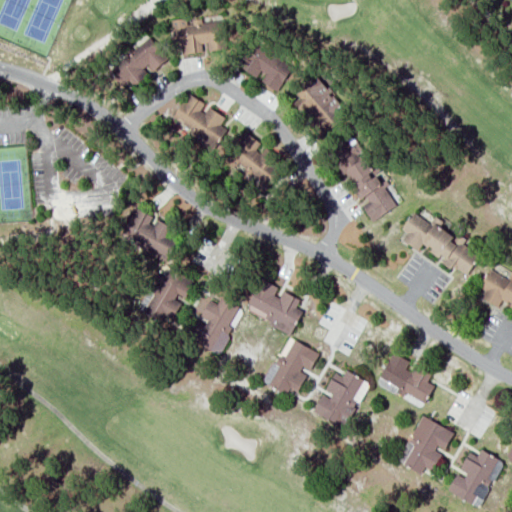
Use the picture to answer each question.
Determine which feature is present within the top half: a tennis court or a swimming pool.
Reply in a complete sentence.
Visible within the top half is a tennis court.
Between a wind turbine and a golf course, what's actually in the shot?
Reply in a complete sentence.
Of the two, only a golf course appears.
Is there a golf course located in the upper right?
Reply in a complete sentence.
Yes, looking in the upper right, one can make out a golf course.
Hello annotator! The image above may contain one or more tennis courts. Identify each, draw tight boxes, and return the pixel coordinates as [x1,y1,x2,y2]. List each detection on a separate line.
[0,0,34,43]
[0,146,34,222]
[16,0,70,56]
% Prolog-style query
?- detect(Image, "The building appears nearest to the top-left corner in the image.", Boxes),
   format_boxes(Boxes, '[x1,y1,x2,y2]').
[112,34,165,88]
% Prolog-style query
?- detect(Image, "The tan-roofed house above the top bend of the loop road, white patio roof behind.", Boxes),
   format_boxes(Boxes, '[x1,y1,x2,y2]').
[173,16,226,59]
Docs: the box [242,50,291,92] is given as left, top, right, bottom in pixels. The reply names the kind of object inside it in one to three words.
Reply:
house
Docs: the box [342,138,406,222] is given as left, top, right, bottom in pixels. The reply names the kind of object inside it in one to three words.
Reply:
house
